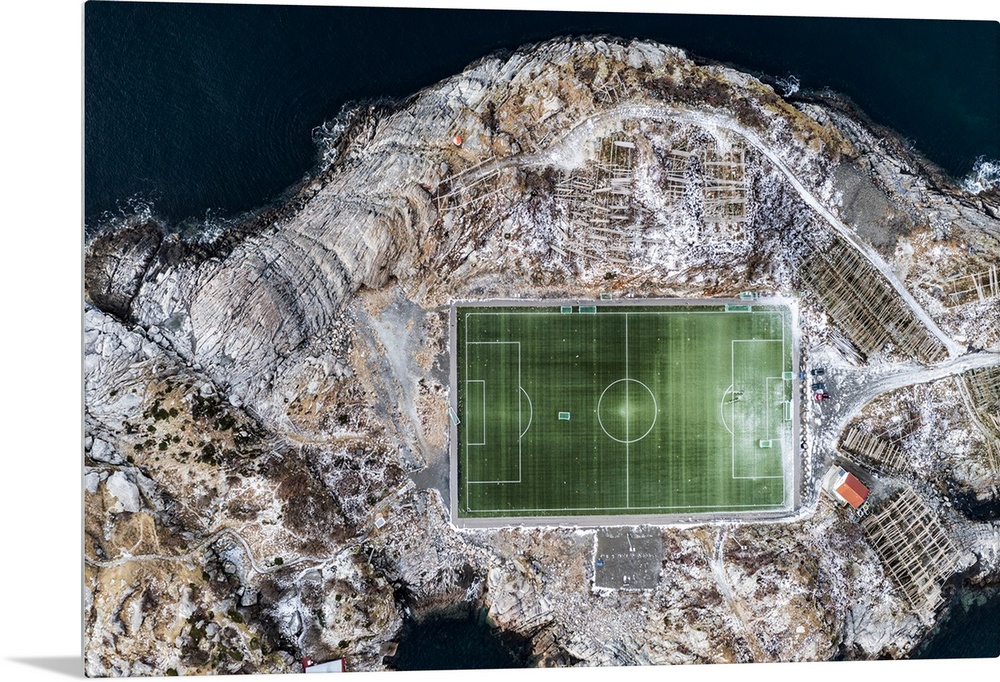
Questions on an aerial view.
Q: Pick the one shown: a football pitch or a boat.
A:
football pitch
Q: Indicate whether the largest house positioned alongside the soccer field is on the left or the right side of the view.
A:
right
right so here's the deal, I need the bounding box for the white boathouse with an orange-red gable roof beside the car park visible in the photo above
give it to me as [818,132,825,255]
[821,463,870,508]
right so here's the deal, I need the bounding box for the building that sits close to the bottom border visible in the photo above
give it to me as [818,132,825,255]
[301,652,357,682]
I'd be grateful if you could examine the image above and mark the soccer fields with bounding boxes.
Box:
[450,298,800,527]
